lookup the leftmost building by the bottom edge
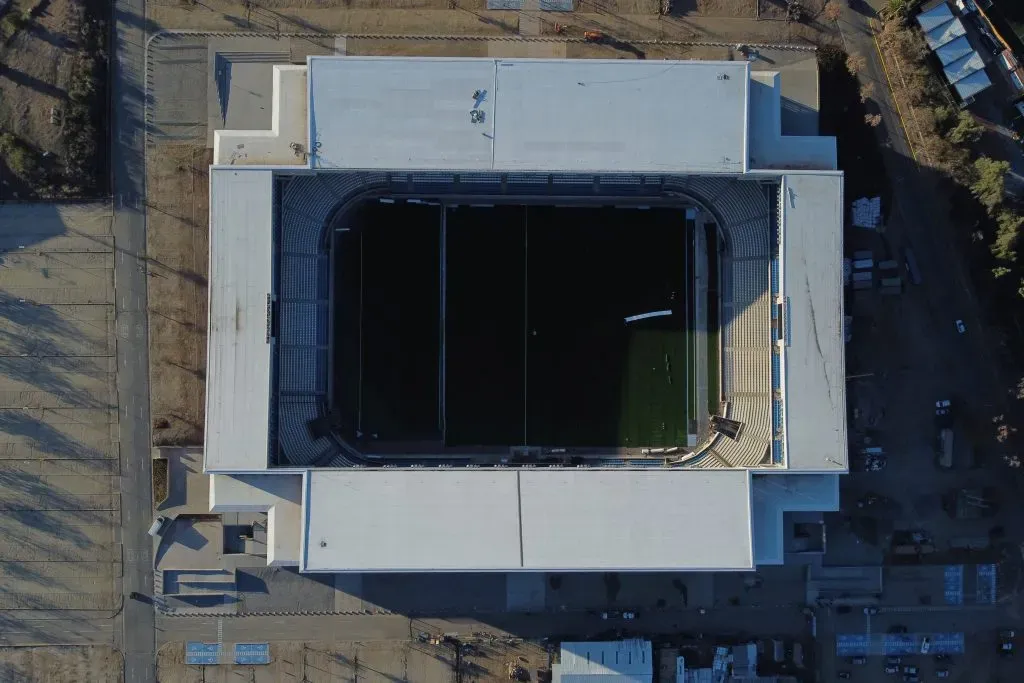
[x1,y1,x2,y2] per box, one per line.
[551,637,653,683]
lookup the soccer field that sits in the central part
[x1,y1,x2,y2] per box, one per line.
[330,196,720,455]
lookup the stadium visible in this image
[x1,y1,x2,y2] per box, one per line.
[204,55,848,572]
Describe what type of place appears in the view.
sports ground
